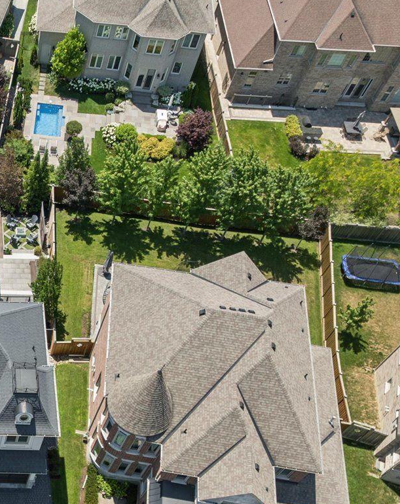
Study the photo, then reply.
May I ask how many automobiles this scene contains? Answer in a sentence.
There are no automobiles in the image.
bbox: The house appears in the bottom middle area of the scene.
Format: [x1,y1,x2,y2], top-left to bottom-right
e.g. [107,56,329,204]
[84,251,351,504]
